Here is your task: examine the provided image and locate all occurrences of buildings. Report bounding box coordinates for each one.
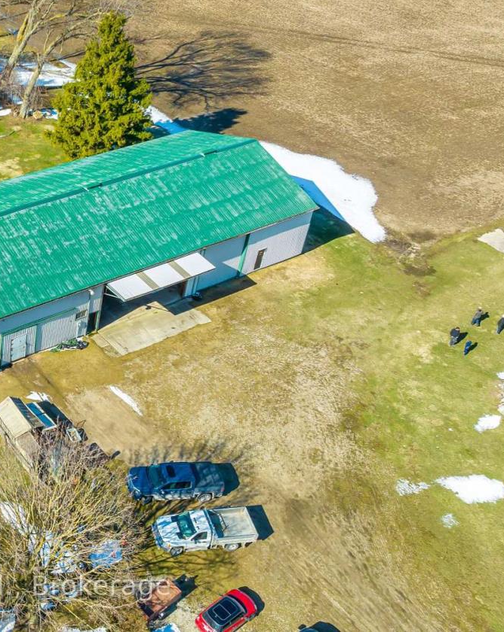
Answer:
[0,395,66,488]
[0,128,321,366]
